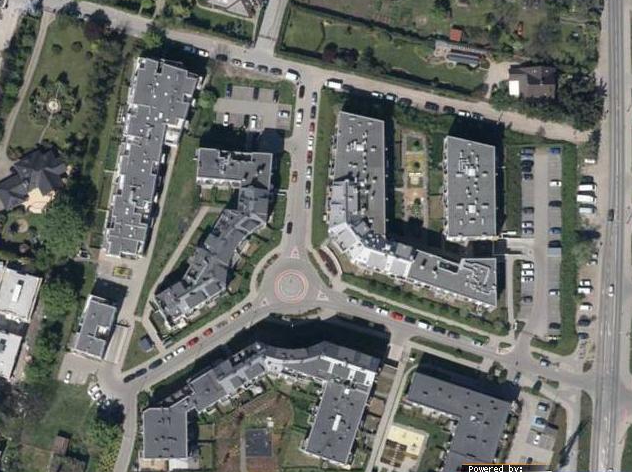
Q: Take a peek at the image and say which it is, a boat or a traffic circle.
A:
traffic circle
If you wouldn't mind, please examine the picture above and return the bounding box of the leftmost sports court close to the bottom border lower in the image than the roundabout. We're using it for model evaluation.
[245,427,271,457]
